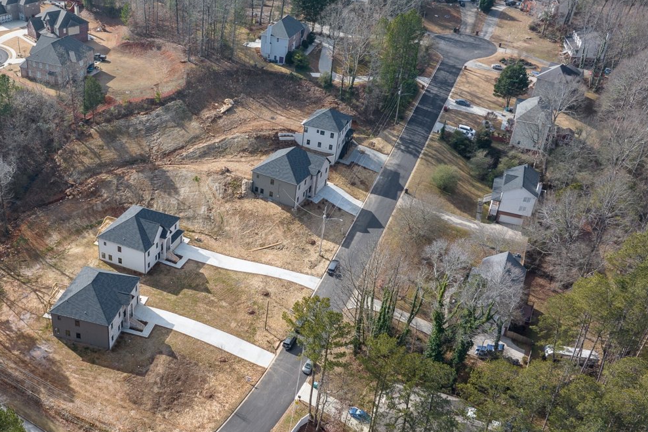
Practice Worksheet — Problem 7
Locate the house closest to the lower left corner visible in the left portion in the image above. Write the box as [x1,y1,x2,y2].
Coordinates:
[49,267,155,349]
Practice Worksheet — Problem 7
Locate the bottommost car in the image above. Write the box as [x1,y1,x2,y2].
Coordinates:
[348,406,371,422]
